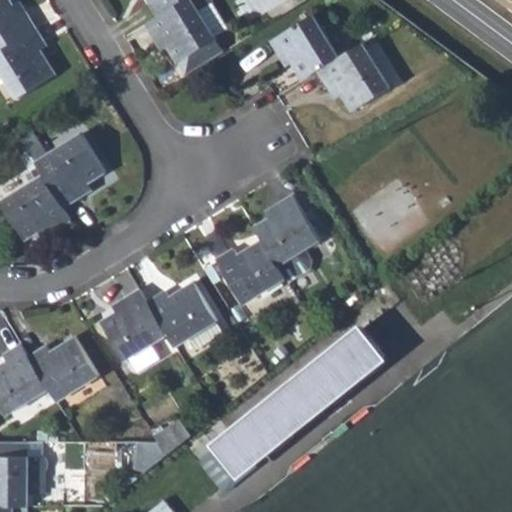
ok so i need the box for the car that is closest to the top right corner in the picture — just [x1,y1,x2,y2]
[298,79,318,95]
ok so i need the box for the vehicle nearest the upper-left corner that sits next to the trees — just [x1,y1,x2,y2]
[84,46,100,68]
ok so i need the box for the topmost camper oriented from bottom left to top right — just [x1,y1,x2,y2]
[238,48,270,72]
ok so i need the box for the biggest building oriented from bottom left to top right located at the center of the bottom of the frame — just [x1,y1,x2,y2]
[206,326,385,484]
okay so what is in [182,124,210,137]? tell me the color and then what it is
white vehicle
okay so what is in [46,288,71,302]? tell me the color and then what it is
white car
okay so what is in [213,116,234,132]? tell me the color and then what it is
gray car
